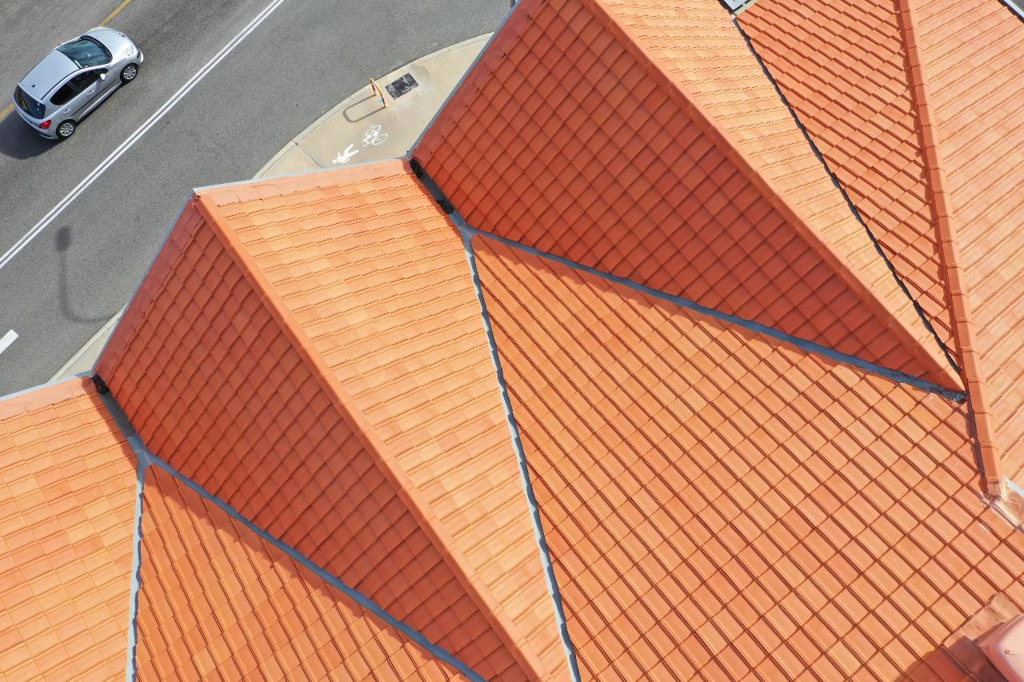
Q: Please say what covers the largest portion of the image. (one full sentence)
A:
Most of the picture is covered by buildings.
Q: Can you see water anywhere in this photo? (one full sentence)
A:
No, no water is visible.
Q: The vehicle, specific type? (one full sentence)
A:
It turns out the vehicle is an automobile.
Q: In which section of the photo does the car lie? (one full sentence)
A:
Look in the top left portion of the view to spot the car.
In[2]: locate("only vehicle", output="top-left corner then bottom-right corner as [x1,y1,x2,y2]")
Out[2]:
[10,25,142,137]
